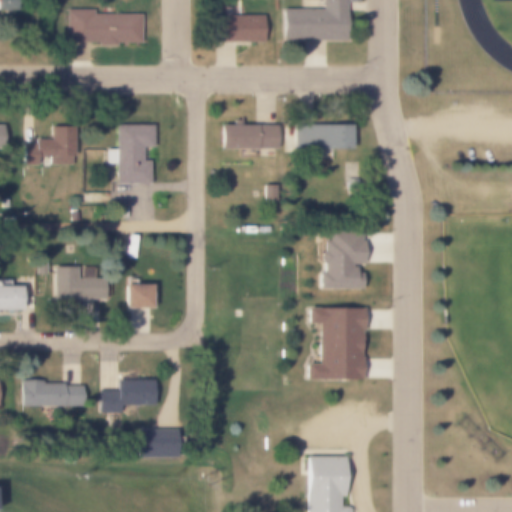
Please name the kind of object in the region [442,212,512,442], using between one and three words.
sports field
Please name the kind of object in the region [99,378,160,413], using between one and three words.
house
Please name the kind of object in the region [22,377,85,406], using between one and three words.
house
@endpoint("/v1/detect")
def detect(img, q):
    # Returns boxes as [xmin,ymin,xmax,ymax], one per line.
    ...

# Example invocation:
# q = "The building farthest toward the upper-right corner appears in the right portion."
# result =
[284,0,355,42]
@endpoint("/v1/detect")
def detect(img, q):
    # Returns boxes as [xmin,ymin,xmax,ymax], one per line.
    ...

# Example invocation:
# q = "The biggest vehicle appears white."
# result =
[128,231,141,258]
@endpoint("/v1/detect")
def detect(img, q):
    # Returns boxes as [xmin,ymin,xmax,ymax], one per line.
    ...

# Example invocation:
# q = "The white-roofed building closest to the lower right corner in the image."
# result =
[306,456,354,512]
